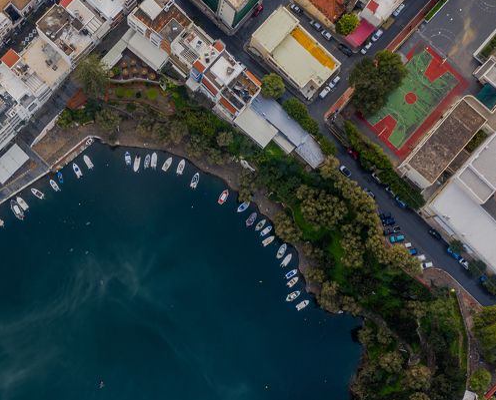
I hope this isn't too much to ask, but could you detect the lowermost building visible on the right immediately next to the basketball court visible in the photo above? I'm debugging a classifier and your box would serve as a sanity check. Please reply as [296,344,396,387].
[418,179,496,277]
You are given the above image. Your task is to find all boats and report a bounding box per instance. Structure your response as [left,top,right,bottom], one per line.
[295,300,310,312]
[18,196,31,212]
[284,269,298,280]
[161,157,172,173]
[151,152,158,170]
[285,277,299,289]
[177,159,186,176]
[236,202,249,213]
[73,164,83,179]
[11,200,26,221]
[275,244,287,260]
[218,189,228,205]
[134,154,142,172]
[246,212,257,227]
[145,154,151,170]
[260,226,271,237]
[285,291,301,303]
[279,254,292,268]
[255,220,266,231]
[84,155,95,170]
[52,180,62,192]
[31,188,46,200]
[190,173,200,189]
[263,236,274,244]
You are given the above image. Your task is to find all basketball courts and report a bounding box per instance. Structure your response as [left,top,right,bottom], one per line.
[354,42,469,158]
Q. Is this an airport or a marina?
marina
